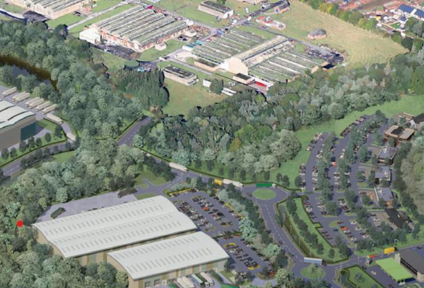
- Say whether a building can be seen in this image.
Yes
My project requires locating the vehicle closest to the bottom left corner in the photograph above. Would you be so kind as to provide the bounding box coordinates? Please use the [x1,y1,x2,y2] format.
[50,204,65,217]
